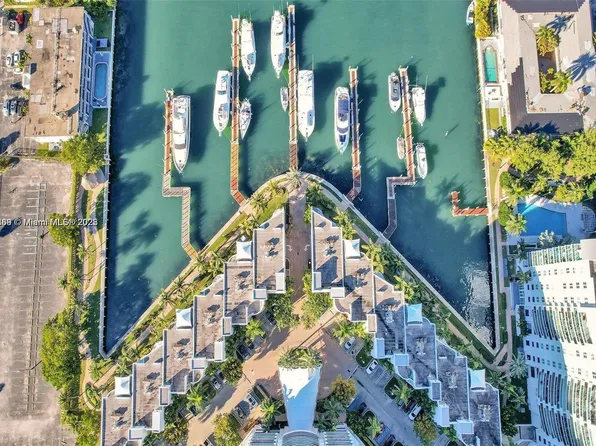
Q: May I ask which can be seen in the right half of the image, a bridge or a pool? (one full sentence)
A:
The feature located in the right half of the image is a pool.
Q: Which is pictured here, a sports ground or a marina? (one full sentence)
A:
This looks like a marina.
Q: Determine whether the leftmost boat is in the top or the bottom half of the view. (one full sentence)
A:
The leftmost boat is in the top half of the image.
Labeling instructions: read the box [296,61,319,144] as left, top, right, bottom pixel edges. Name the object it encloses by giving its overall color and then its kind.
white boat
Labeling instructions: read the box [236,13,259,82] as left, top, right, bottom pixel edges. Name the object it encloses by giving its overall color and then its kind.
white boat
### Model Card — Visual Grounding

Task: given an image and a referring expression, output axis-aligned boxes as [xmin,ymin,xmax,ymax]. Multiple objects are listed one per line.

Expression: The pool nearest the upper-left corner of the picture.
[94,62,109,101]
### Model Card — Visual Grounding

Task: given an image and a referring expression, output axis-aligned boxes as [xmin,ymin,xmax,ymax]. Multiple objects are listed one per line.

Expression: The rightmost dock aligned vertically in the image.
[377,63,417,243]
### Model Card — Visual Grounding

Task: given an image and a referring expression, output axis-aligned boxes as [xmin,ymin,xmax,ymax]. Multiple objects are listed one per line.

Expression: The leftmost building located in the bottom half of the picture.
[98,209,286,446]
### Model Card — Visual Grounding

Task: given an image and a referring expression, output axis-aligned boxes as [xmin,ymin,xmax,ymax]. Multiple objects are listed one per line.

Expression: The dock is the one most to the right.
[450,191,490,218]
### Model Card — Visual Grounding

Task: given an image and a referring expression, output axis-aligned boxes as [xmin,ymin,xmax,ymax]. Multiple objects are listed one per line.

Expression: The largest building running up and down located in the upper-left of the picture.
[24,7,97,144]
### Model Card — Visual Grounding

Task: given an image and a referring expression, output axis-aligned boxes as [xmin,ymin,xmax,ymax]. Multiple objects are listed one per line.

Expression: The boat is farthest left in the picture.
[171,94,194,176]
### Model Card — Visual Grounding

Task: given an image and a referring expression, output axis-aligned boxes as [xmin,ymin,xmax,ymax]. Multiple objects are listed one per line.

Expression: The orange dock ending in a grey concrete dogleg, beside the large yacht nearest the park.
[159,87,199,262]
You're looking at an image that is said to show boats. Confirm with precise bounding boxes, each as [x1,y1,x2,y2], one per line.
[384,73,402,113]
[409,79,430,128]
[281,86,288,110]
[296,61,319,144]
[237,98,256,139]
[414,143,430,179]
[330,86,351,155]
[211,69,232,136]
[171,94,194,176]
[397,136,405,158]
[268,6,288,79]
[236,13,259,82]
